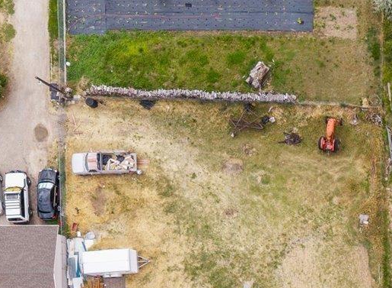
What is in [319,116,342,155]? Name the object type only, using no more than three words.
work vehicle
